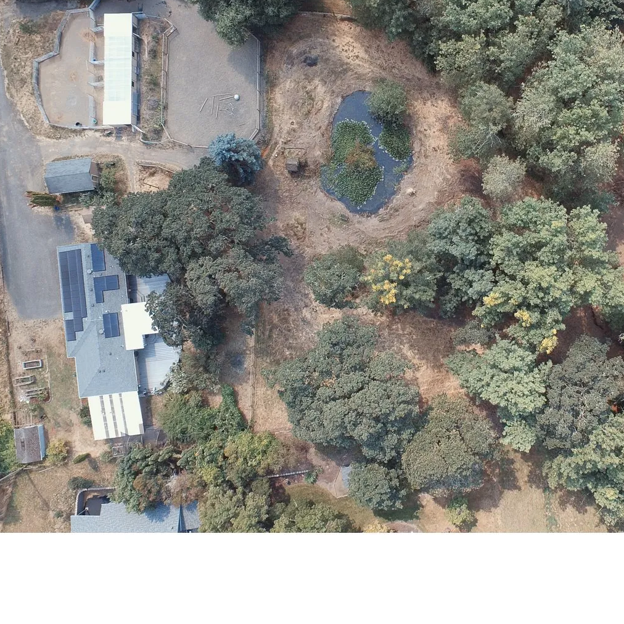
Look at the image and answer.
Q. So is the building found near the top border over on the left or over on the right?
left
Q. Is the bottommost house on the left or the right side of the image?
left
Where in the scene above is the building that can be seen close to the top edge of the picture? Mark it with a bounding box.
[103,13,139,126]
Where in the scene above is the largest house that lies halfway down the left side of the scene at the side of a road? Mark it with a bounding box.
[56,242,141,399]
